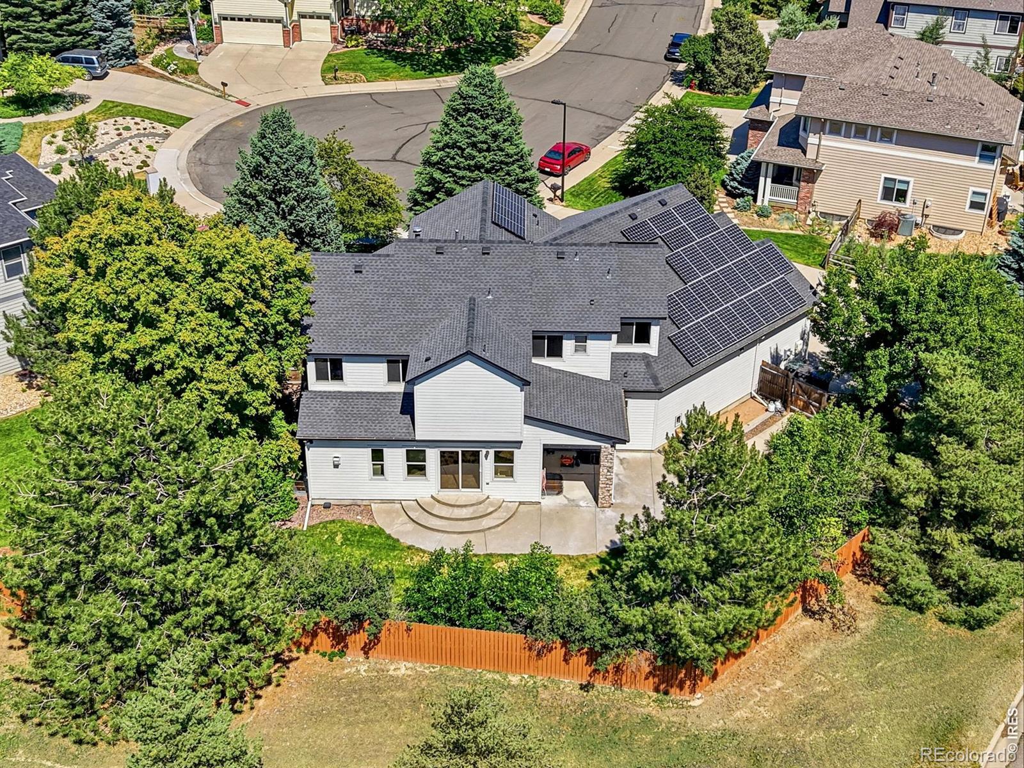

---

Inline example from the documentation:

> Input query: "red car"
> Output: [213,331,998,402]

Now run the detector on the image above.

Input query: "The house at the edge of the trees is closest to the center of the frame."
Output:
[294,180,825,542]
